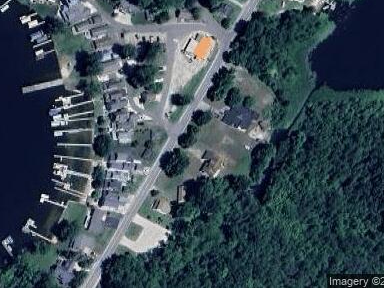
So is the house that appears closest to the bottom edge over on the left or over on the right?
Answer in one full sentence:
You can find the house that appears closest to the bottom edge on the left side of the picture.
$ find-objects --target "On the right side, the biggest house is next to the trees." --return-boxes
[224,106,260,130]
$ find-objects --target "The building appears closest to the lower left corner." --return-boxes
[56,260,77,288]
